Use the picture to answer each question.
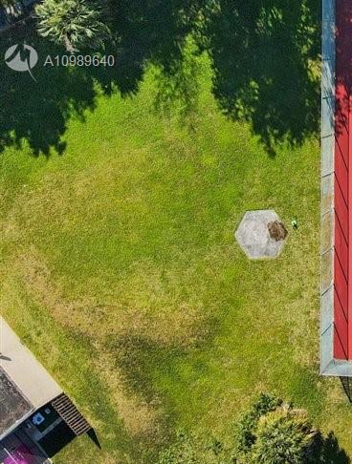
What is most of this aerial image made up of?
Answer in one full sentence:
The largest share of the image is taken up by grass.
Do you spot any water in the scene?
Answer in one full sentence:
No, water can't be seen anywhere here.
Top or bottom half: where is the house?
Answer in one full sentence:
Seen from above, the house lies in the bottom half of the view.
